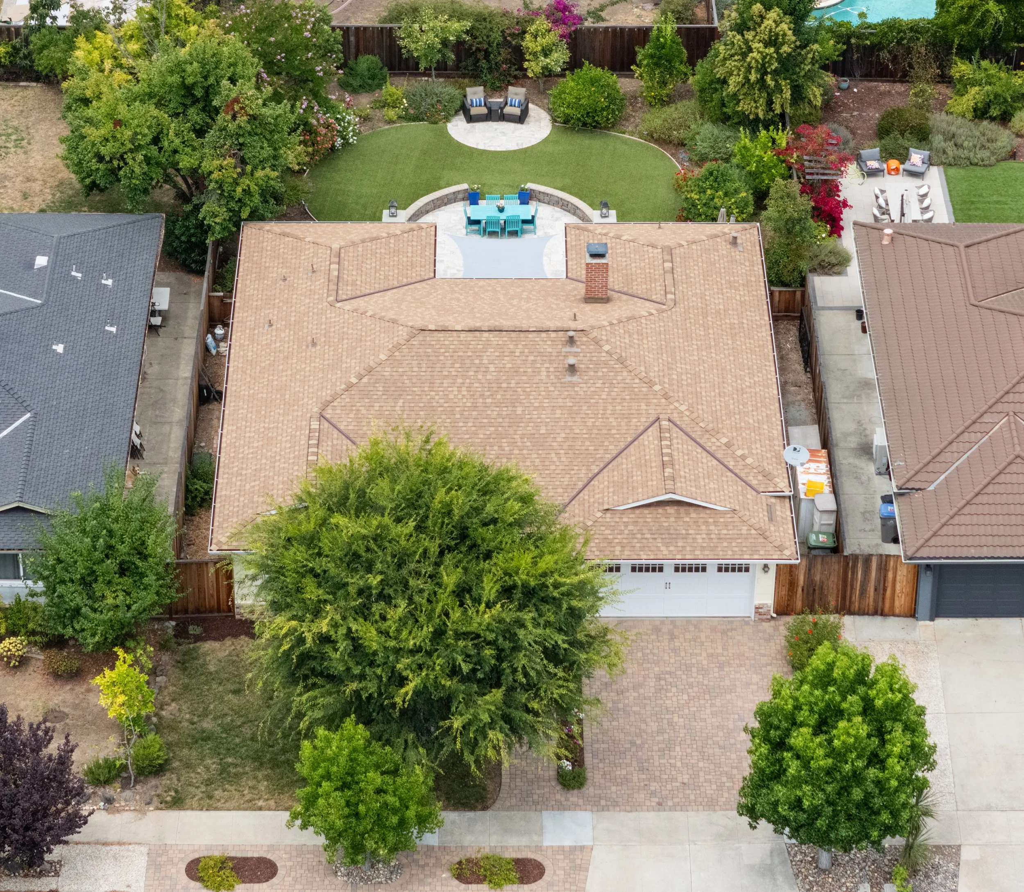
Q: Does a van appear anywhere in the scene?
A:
No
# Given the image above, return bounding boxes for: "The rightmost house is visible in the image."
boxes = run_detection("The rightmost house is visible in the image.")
[848,218,1024,615]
